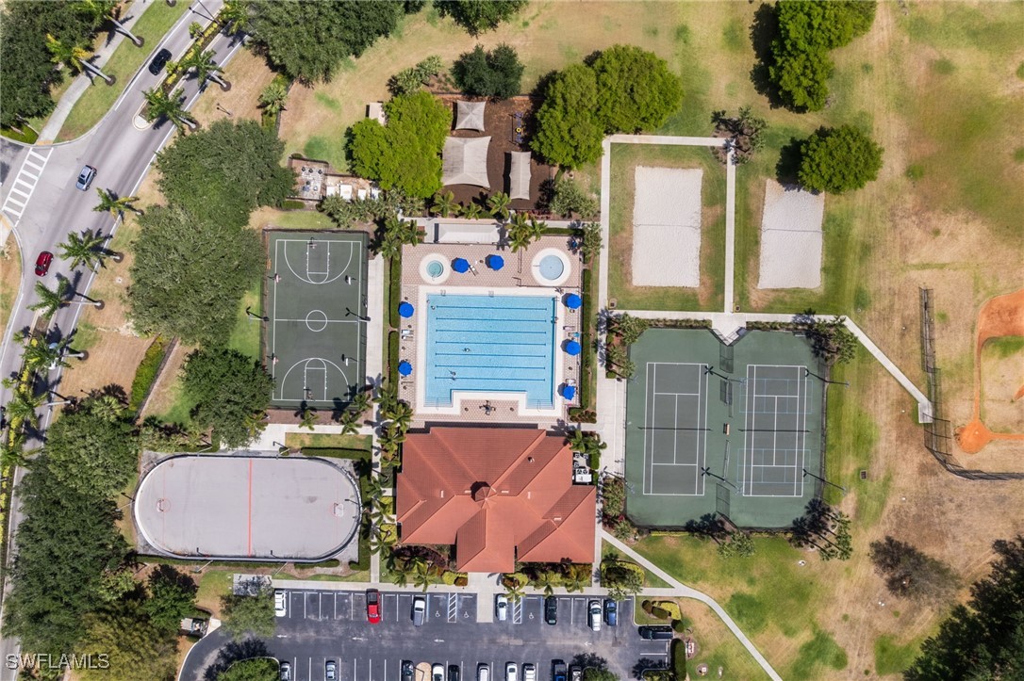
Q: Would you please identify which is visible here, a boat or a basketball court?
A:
basketball court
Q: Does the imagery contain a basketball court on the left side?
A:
Yes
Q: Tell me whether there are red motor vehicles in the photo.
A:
Yes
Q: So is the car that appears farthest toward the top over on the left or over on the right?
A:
left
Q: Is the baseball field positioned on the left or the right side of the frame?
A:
right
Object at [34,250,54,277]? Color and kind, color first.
red car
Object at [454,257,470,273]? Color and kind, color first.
blue umbrella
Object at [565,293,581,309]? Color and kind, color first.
blue umbrella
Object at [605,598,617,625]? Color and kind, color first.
blue vehicle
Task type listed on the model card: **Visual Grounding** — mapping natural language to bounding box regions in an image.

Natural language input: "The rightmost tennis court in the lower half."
[723,331,824,528]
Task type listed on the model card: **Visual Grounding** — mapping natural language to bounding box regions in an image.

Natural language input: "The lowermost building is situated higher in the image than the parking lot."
[396,427,596,574]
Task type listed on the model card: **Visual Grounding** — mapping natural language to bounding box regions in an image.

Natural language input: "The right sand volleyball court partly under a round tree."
[758,179,829,289]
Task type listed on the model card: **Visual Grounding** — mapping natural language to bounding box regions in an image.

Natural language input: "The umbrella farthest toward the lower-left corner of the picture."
[398,361,412,375]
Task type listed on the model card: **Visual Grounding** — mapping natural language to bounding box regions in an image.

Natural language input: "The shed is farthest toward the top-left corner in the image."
[370,103,387,127]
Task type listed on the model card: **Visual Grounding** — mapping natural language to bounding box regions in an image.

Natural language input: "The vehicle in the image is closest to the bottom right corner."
[637,626,671,641]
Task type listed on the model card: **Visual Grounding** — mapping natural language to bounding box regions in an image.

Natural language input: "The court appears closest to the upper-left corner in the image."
[267,231,368,409]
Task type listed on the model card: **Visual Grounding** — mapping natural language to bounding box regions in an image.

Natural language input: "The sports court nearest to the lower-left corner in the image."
[130,453,360,564]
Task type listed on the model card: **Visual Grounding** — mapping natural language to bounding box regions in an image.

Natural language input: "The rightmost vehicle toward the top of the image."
[149,48,172,75]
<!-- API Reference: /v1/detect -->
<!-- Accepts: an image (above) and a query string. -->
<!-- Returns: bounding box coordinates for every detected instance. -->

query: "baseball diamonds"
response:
[957,287,1024,453]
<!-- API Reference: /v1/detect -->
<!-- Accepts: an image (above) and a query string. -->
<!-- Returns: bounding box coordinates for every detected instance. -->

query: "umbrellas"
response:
[398,361,412,375]
[565,340,581,356]
[560,385,576,401]
[454,257,470,273]
[399,303,413,317]
[489,254,504,270]
[565,293,581,309]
